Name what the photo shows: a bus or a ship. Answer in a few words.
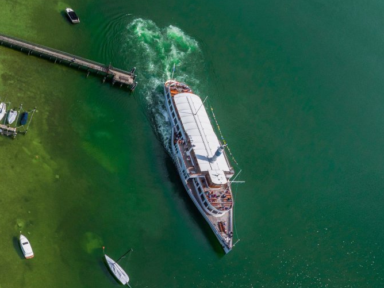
ship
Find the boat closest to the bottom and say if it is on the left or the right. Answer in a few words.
left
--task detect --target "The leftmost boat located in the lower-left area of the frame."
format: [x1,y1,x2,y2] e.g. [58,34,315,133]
[20,234,34,260]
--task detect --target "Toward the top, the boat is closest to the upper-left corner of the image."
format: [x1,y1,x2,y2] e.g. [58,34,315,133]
[66,8,82,25]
